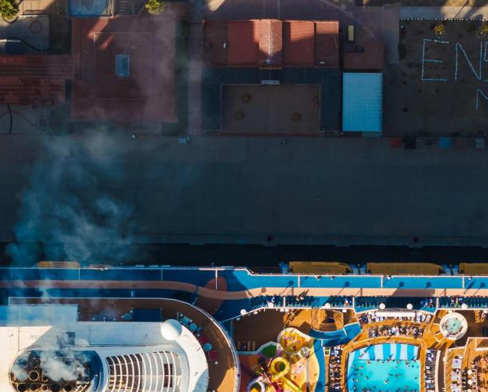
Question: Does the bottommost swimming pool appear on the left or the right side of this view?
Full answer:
It is on the right.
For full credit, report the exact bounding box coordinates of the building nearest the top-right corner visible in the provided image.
[344,40,384,70]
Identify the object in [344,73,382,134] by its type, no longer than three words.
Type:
shed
